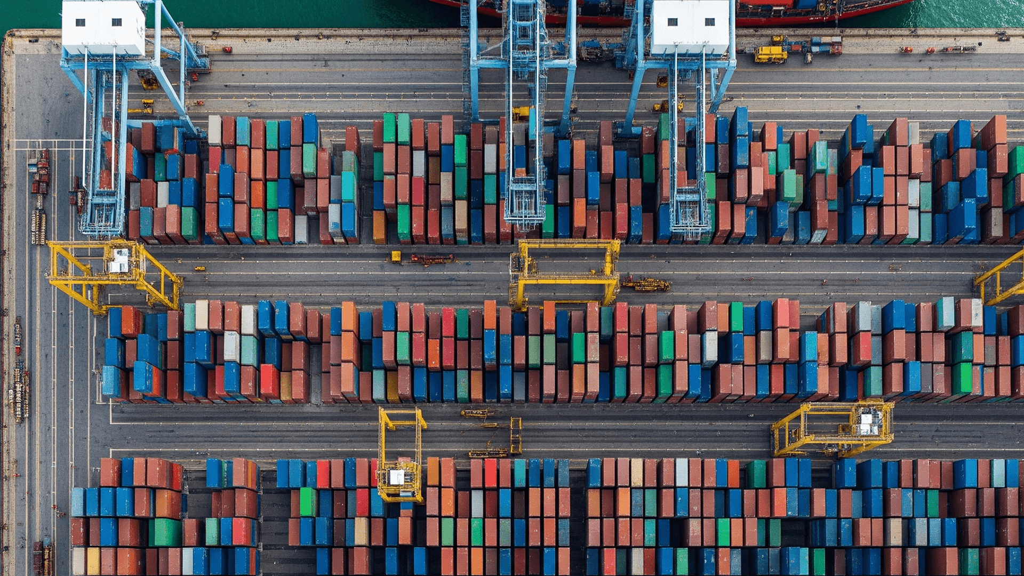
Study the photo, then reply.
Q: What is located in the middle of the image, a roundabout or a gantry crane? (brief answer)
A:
gantry crane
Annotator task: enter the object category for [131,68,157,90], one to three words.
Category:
work vehicle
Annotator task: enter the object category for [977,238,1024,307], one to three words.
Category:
container crane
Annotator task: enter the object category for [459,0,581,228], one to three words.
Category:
container crane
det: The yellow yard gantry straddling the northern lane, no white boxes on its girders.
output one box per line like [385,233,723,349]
[510,235,618,316]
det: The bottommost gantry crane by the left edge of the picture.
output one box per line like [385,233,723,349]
[48,239,184,317]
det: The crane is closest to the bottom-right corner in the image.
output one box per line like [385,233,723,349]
[772,400,897,460]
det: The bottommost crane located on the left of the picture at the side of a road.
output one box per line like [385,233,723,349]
[374,401,434,507]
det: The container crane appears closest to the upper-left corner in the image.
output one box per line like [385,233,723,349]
[52,0,217,240]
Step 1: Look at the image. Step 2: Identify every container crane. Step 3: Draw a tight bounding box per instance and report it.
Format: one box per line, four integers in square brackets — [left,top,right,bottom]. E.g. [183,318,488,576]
[374,401,434,507]
[772,400,897,460]
[459,0,581,228]
[605,0,740,243]
[52,0,217,240]
[977,238,1024,307]
[510,235,618,316]
[48,239,184,317]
